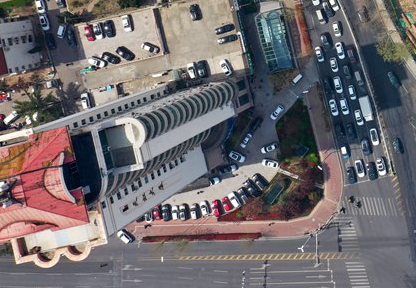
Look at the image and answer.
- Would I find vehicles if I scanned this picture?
Yes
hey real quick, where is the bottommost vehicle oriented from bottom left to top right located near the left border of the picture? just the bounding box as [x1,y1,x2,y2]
[1,109,19,125]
